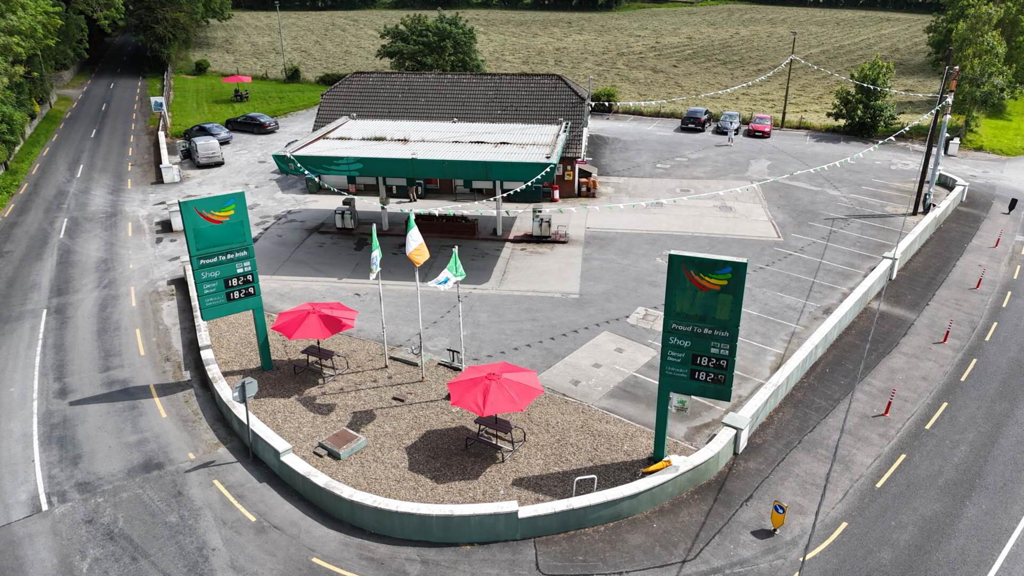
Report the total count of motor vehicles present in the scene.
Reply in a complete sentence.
Looking from above, you can make out 6 motor vehicles.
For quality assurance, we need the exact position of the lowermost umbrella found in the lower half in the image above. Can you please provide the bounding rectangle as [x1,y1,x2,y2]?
[448,368,546,452]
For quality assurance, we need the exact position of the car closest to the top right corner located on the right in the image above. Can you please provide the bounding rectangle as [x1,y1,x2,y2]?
[749,113,776,137]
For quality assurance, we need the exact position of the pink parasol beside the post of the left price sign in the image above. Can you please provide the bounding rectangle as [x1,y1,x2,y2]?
[274,300,359,370]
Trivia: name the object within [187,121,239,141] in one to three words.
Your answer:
car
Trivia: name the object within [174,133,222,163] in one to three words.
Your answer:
van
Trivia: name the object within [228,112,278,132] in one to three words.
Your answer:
car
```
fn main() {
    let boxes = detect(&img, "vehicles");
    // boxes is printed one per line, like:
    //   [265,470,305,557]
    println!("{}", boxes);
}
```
[174,133,222,163]
[717,110,744,134]
[187,121,239,141]
[685,108,714,130]
[749,113,776,137]
[228,112,278,132]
